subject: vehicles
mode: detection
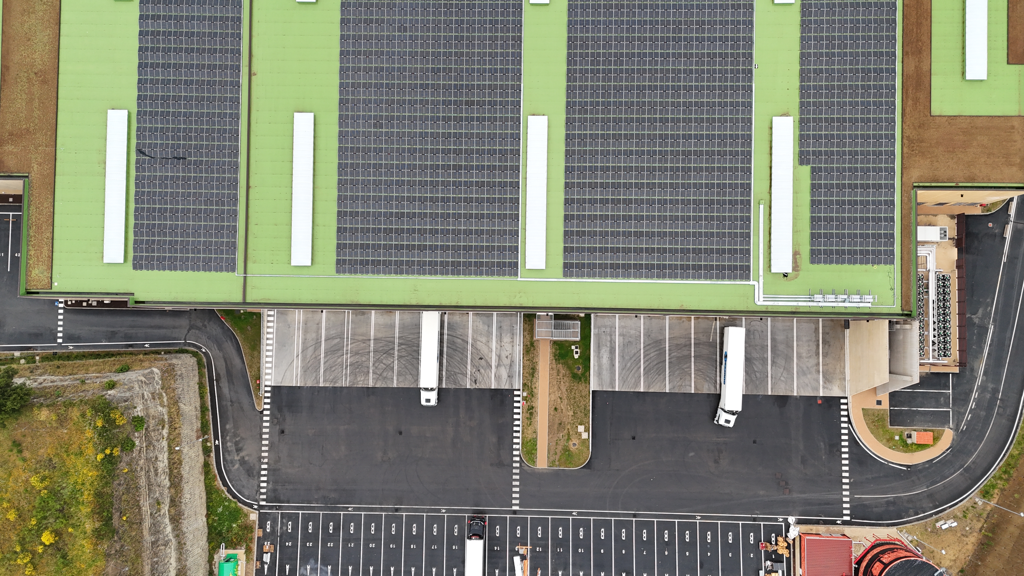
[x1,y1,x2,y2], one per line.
[419,312,441,406]
[712,327,745,430]
[466,512,486,576]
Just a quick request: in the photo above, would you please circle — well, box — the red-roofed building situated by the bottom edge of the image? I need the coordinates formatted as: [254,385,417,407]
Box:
[799,533,854,576]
